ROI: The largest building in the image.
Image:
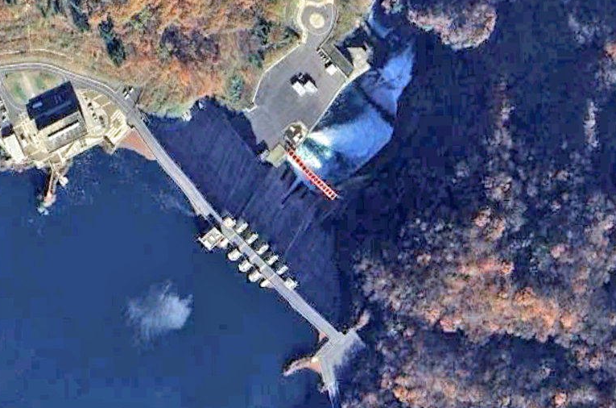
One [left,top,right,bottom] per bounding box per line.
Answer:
[39,110,87,153]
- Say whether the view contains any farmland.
No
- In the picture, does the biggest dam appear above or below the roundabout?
below it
